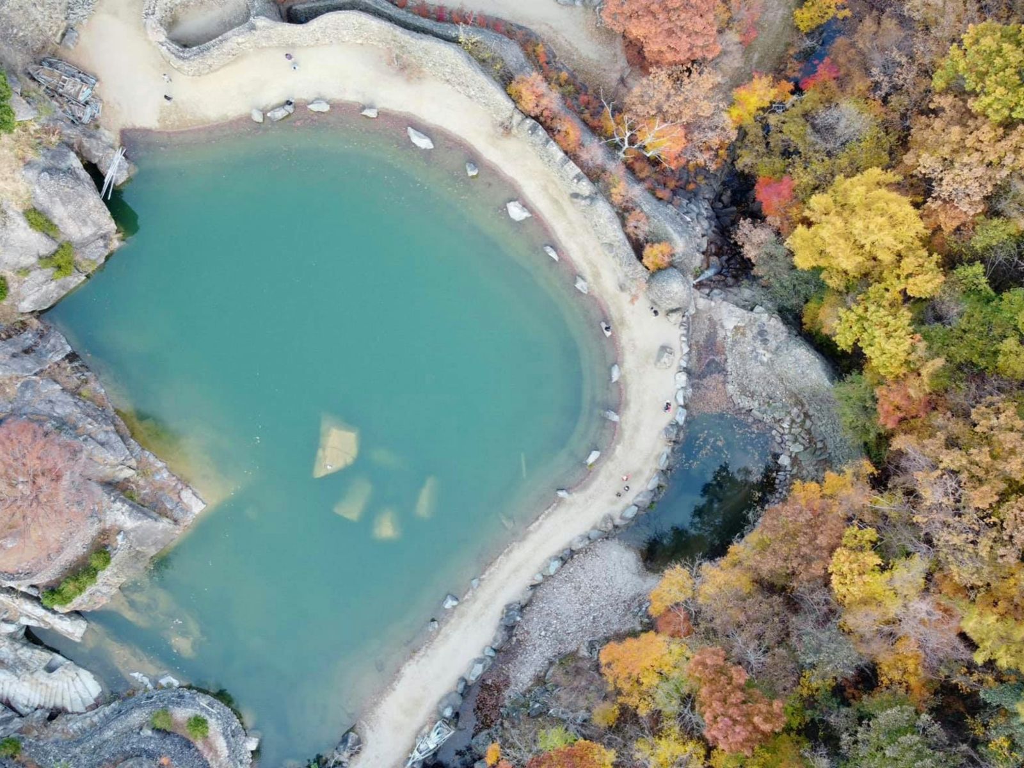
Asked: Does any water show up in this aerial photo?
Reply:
Yes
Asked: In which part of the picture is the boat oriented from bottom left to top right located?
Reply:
bottom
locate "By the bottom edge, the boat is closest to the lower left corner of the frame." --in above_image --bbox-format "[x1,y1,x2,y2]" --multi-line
[406,718,454,768]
